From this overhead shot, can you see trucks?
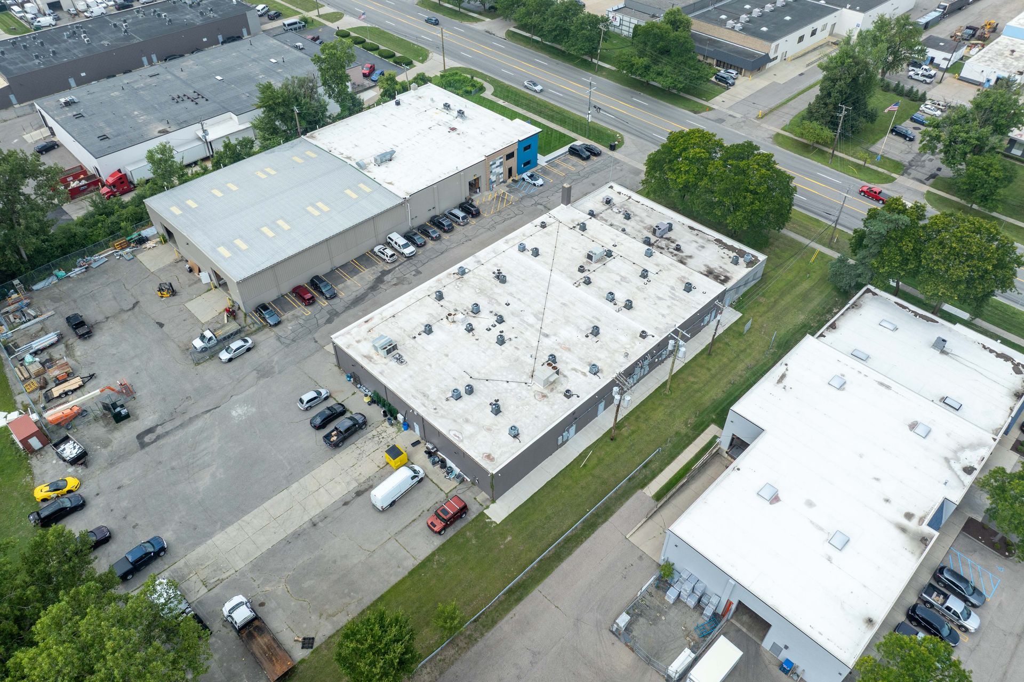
Yes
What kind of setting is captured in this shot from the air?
industrial area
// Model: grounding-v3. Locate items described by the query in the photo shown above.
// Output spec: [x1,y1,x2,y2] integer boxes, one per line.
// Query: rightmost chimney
[556,182,576,211]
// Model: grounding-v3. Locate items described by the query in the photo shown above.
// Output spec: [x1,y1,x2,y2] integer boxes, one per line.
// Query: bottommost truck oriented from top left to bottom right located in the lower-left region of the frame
[231,606,295,682]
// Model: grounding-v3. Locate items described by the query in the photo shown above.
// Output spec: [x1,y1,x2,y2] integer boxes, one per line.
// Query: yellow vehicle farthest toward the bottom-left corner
[33,476,82,502]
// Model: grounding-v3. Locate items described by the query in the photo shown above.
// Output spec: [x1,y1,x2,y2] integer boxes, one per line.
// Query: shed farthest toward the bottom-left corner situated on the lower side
[5,412,47,452]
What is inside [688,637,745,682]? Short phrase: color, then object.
white vehicle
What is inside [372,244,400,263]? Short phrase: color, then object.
white car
